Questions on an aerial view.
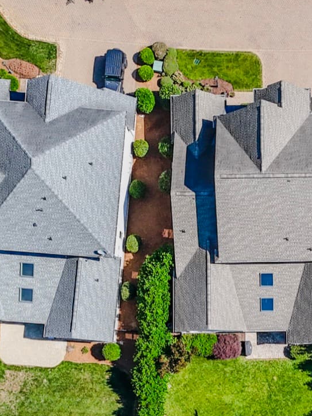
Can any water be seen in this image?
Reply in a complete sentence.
No, there's no water in this view.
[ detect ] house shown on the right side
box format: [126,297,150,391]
[168,81,312,344]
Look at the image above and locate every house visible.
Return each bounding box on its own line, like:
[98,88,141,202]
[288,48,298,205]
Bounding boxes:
[0,75,143,343]
[168,81,312,344]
